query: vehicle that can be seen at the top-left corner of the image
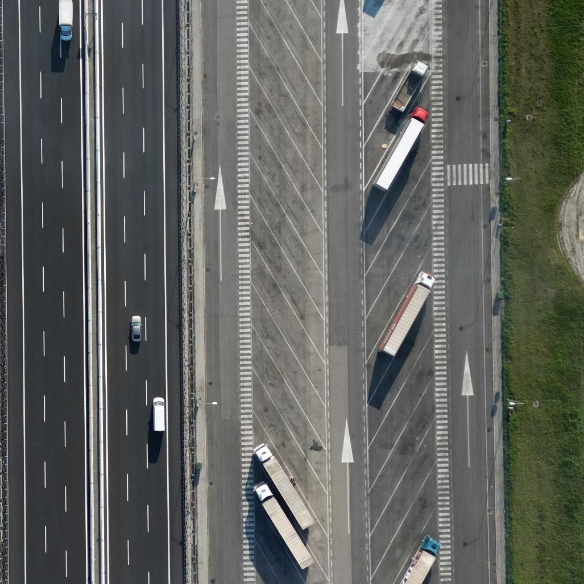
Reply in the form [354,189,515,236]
[60,0,74,40]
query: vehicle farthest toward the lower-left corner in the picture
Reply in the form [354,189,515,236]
[151,396,165,432]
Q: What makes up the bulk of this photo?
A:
paved ground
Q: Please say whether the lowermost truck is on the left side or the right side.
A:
right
